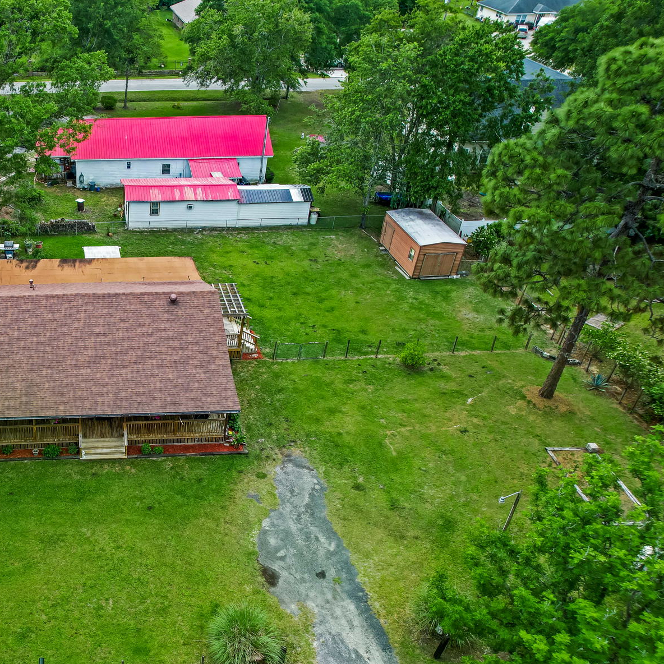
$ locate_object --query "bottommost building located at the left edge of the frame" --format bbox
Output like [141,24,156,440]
[0,256,239,460]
